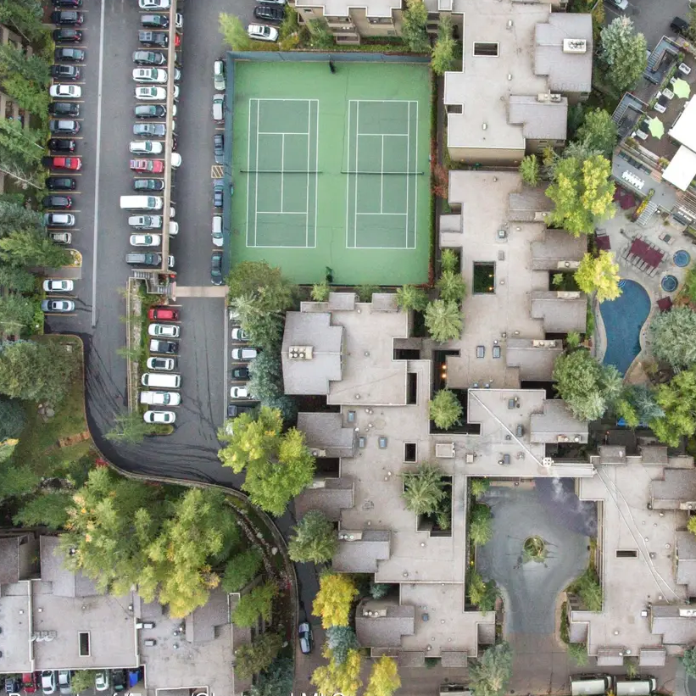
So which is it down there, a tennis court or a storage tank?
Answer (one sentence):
There is a tennis court in the scene.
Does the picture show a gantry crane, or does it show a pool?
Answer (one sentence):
It is a pool that can be seen here.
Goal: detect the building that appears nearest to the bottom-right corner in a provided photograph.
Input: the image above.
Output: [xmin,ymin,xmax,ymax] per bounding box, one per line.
[563,438,696,665]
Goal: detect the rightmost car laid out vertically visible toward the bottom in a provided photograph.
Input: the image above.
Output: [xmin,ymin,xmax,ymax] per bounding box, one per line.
[297,621,314,653]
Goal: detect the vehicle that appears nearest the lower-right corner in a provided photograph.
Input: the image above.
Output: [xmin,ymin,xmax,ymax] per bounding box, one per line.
[612,674,656,696]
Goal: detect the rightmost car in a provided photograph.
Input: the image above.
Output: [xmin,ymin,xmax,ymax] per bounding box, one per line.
[666,14,690,38]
